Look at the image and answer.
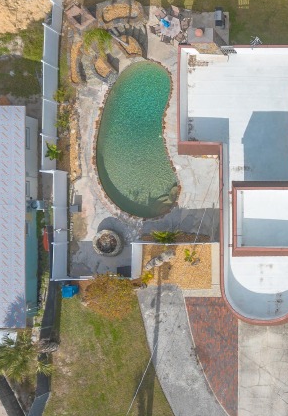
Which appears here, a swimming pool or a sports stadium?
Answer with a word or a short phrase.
swimming pool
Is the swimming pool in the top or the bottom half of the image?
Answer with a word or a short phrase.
top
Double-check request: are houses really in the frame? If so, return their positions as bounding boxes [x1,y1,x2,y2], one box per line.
[0,106,37,328]
[179,25,288,322]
